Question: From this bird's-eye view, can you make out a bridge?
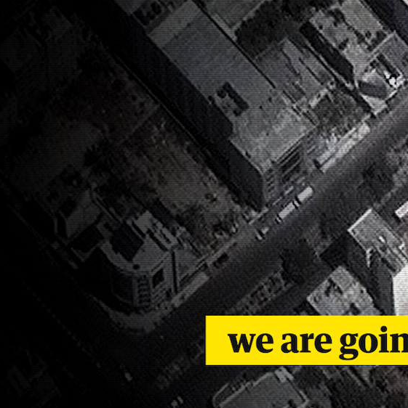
No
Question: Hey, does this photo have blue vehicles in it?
No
